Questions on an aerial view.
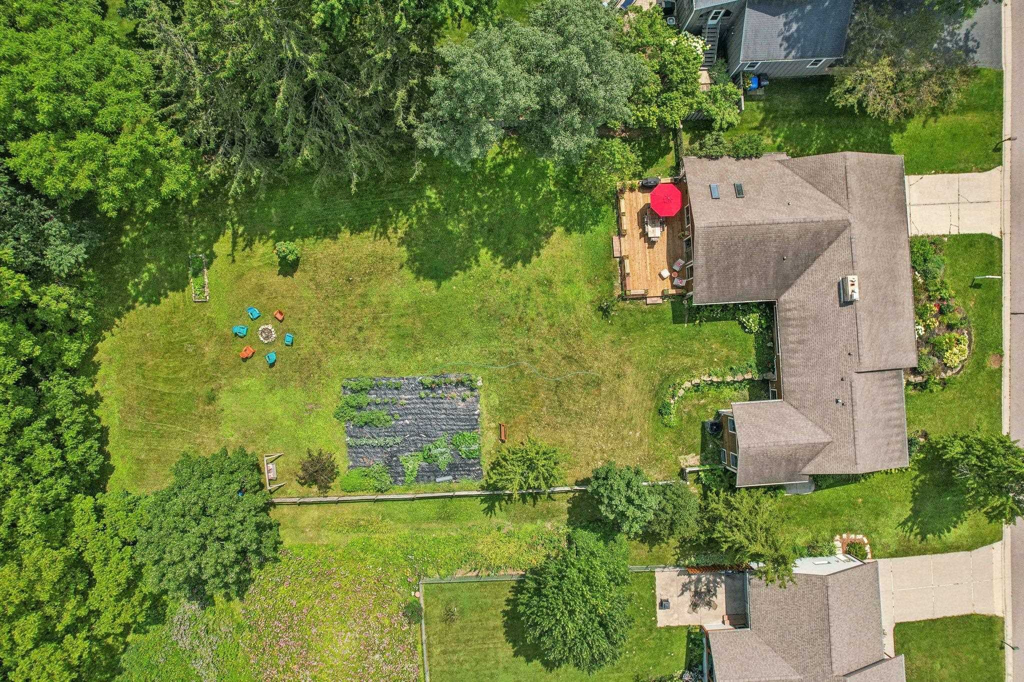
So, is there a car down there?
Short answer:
No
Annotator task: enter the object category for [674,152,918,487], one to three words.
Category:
house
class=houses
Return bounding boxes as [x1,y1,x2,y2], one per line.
[674,152,918,487]
[682,0,851,78]
[702,552,908,682]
